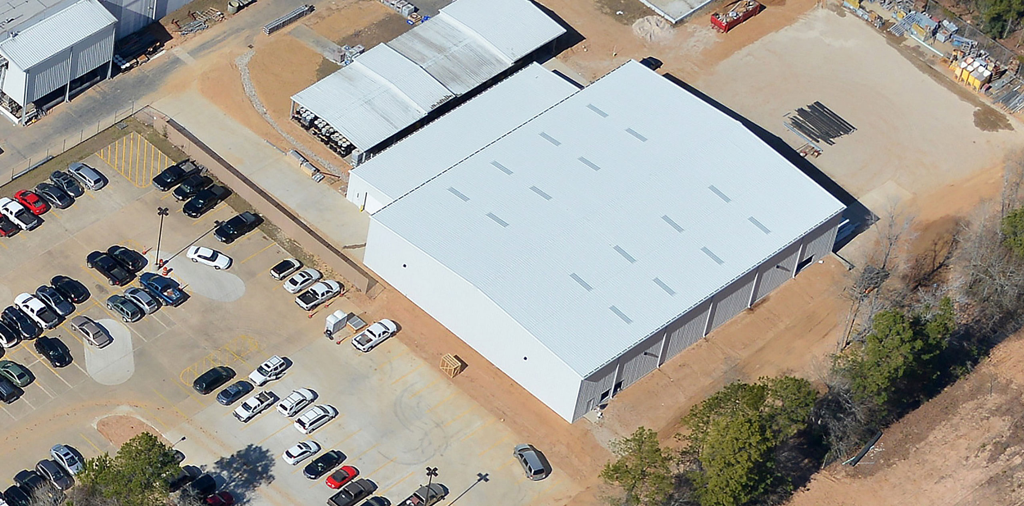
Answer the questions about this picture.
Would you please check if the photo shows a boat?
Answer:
No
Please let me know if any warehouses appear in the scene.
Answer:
Yes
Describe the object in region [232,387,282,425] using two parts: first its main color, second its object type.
white truck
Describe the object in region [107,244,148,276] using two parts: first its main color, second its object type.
black car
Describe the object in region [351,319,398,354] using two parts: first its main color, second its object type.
white truck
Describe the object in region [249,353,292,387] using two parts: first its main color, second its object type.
white car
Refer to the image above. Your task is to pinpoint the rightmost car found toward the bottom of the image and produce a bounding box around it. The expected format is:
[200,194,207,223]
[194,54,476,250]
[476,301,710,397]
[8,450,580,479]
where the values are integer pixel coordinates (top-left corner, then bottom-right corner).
[516,445,548,483]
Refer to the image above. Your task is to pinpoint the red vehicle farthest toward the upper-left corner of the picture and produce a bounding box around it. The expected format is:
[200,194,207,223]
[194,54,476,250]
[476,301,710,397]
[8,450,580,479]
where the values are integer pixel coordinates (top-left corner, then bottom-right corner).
[12,190,50,219]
